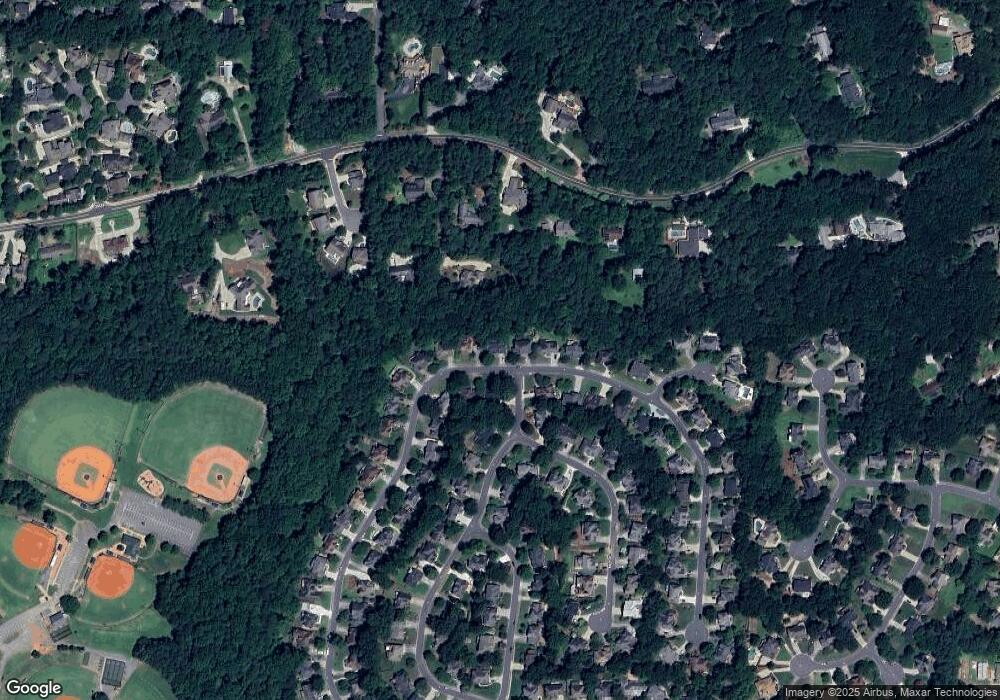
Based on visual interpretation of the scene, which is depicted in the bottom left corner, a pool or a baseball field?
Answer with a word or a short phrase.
baseball field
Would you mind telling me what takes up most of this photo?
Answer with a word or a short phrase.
trees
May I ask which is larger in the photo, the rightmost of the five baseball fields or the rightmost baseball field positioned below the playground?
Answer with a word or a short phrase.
the rightmost of the five baseball fields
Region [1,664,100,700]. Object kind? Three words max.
baseball field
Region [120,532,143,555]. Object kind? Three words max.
building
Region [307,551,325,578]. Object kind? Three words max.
house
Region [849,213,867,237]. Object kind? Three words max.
swimming pool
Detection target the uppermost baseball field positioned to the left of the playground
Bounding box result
[8,386,131,510]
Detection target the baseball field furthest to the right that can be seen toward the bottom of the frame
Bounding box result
[139,384,267,509]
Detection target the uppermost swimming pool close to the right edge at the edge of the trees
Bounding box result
[935,62,953,76]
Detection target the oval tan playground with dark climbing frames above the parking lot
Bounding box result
[138,470,164,498]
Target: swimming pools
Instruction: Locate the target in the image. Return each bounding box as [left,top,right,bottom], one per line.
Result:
[489,63,507,85]
[737,385,754,400]
[24,77,35,93]
[252,294,264,308]
[201,90,221,107]
[165,130,177,141]
[17,119,29,133]
[120,121,134,134]
[753,518,766,533]
[404,37,422,56]
[142,44,158,60]
[935,62,953,76]
[20,183,34,191]
[669,227,688,239]
[849,213,867,237]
